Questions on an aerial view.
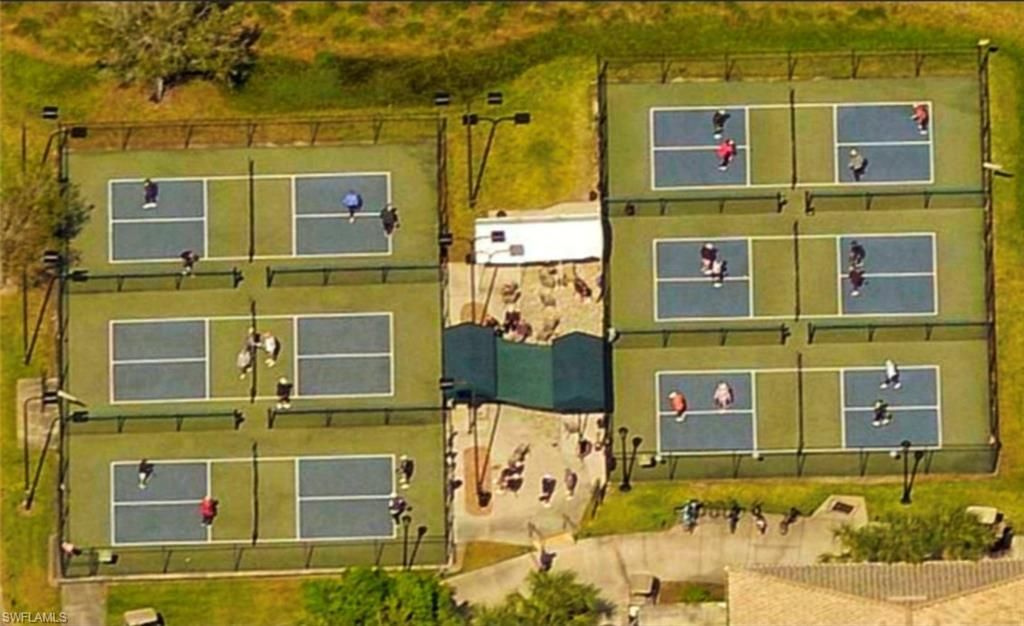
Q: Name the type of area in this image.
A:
sports ground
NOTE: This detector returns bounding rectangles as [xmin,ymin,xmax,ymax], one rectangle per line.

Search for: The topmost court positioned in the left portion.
[63,142,444,291]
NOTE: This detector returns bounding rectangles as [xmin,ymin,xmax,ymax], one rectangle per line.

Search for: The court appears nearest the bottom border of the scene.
[60,423,447,578]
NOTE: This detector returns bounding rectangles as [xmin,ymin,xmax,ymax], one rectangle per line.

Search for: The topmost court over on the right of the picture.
[603,76,985,215]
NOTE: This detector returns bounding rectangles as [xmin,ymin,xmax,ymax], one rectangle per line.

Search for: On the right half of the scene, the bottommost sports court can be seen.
[607,339,995,481]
